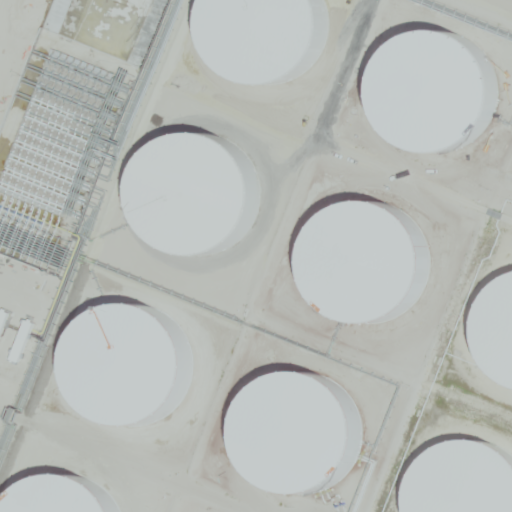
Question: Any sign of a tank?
Yes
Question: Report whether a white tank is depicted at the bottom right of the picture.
Yes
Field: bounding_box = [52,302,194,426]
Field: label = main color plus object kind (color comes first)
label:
white storage tank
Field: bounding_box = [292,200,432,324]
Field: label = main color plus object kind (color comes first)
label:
white storage tank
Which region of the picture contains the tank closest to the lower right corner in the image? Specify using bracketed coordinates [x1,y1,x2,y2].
[397,438,512,512]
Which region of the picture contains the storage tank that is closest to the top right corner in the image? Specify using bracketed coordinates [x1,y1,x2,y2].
[360,30,500,154]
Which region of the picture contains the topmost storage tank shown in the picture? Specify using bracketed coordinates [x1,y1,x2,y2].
[188,0,329,86]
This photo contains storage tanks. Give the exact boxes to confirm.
[188,0,329,86]
[0,471,122,512]
[292,200,432,324]
[397,438,512,512]
[52,302,194,426]
[120,132,262,256]
[222,370,364,495]
[465,270,512,389]
[360,30,500,154]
